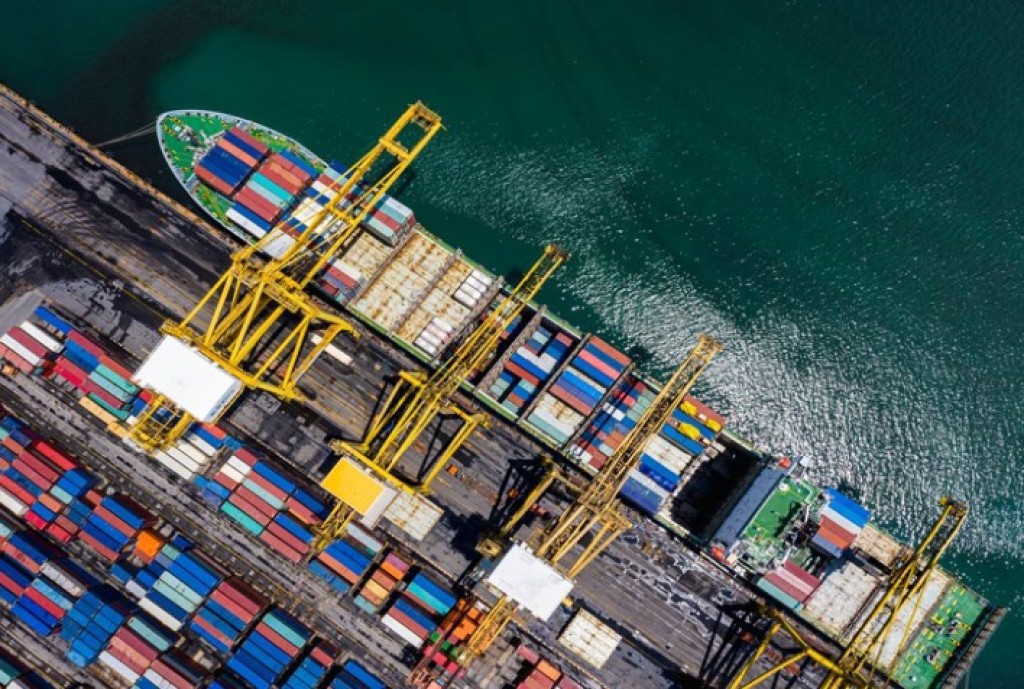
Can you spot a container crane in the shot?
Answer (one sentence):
Yes, the picture does show a container crane.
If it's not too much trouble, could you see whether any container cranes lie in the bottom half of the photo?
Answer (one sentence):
Yes, a container crane appears in the bottom half of the photo.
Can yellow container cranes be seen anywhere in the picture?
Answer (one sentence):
Yes, the picture does show a yellow container crane.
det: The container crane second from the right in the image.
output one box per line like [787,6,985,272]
[459,332,724,668]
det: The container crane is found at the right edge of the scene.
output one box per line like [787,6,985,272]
[696,500,974,689]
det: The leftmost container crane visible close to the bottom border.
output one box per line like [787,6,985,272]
[397,563,490,689]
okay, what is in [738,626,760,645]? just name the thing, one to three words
vehicle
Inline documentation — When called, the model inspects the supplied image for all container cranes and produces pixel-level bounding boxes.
[459,332,724,668]
[397,563,490,689]
[310,244,565,550]
[133,102,445,450]
[696,500,974,689]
